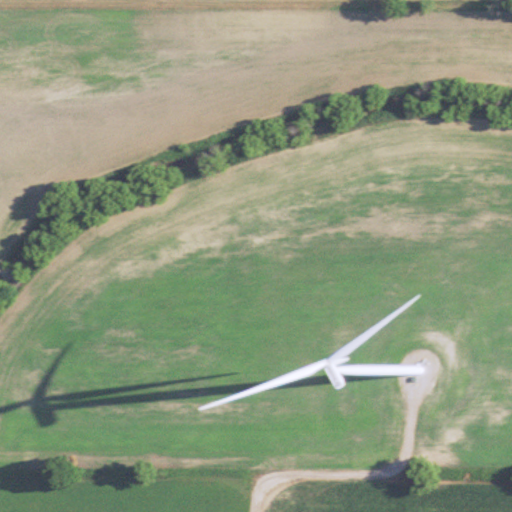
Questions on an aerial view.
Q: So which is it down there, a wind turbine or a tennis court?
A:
wind turbine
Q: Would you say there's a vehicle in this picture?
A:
No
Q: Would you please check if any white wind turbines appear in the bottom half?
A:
Yes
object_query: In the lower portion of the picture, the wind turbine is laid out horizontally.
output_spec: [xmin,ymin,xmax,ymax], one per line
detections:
[200,294,428,409]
